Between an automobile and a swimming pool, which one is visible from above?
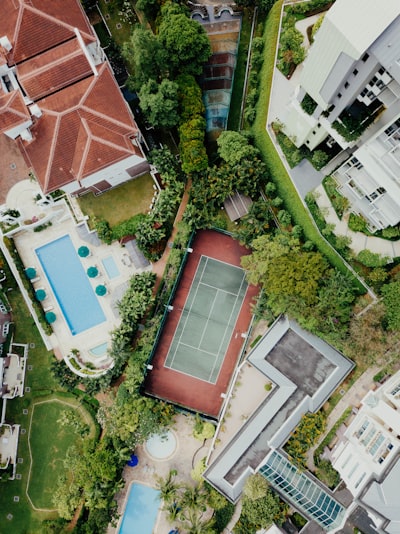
swimming pool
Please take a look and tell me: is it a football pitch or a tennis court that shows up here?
tennis court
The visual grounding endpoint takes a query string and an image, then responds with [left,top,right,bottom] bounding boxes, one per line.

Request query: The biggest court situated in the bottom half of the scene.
[146,229,260,419]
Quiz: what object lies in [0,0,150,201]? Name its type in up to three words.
house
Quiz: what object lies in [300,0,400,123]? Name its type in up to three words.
building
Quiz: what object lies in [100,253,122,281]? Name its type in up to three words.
swimming pool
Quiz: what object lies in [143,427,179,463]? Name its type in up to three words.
swimming pool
